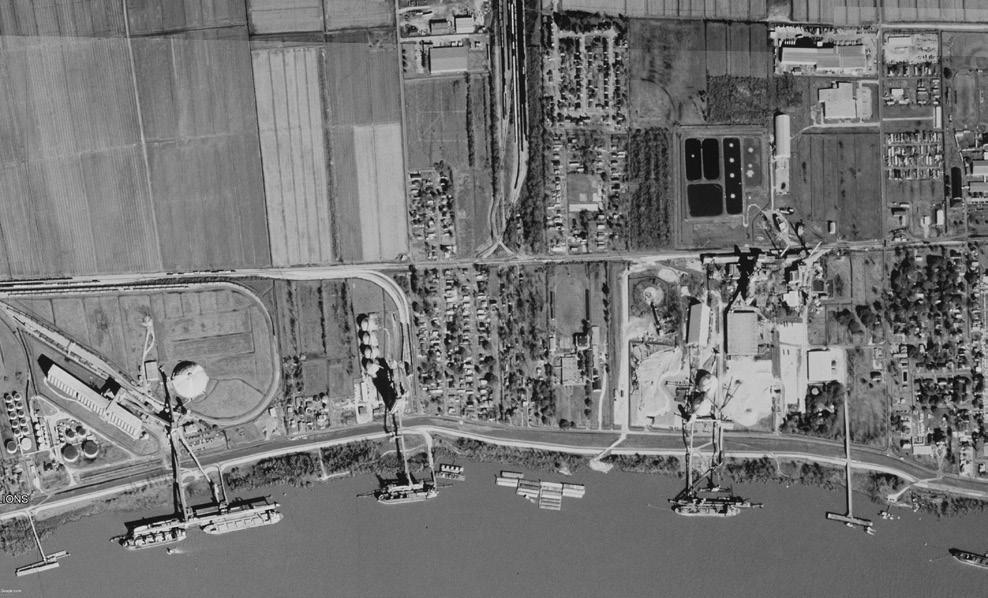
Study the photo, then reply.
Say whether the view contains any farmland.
Yes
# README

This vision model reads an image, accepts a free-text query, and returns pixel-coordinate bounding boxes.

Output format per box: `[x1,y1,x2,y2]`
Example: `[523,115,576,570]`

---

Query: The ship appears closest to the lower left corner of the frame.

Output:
[14,561,61,578]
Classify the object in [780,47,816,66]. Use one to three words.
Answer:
building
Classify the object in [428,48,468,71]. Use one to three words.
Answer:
barn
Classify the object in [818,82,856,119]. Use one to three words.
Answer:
building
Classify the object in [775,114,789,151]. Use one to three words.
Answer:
barn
